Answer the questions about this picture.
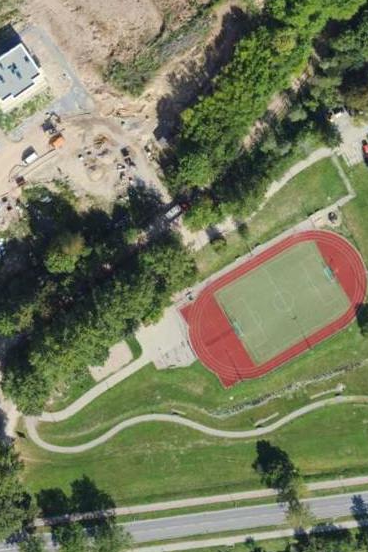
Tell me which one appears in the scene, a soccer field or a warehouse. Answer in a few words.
soccer field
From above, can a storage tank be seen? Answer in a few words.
No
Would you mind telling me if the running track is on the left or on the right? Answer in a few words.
right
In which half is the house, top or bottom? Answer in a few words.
top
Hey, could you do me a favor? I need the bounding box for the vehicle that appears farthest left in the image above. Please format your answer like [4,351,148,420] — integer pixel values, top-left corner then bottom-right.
[22,150,39,164]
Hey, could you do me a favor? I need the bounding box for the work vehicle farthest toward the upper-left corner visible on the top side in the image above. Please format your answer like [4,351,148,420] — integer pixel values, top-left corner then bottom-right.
[41,113,62,133]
